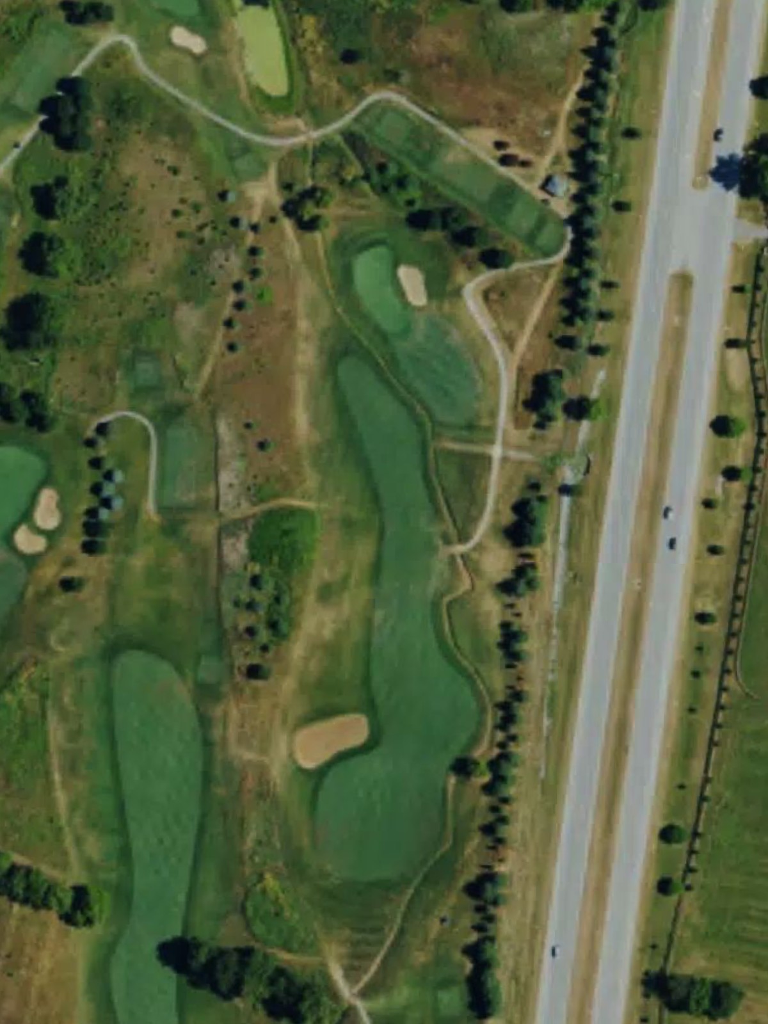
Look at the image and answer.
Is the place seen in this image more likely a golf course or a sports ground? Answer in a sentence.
The area seen from above is a golf course.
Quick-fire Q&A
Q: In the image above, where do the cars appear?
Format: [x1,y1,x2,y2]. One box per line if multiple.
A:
[718,128,724,141]
[667,507,673,520]
[554,945,560,958]
[670,537,676,550]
